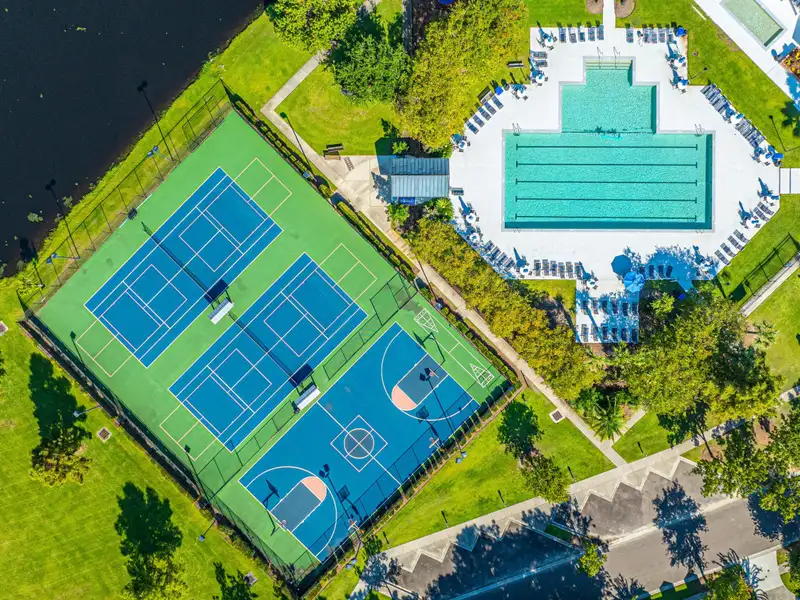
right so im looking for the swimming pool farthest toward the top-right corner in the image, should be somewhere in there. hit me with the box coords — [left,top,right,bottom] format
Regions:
[714,0,790,52]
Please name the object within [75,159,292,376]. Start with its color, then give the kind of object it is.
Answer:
blue tennis court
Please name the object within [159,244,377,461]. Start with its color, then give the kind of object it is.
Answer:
blue tennis court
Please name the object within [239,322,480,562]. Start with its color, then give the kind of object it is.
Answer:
blue basketball court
